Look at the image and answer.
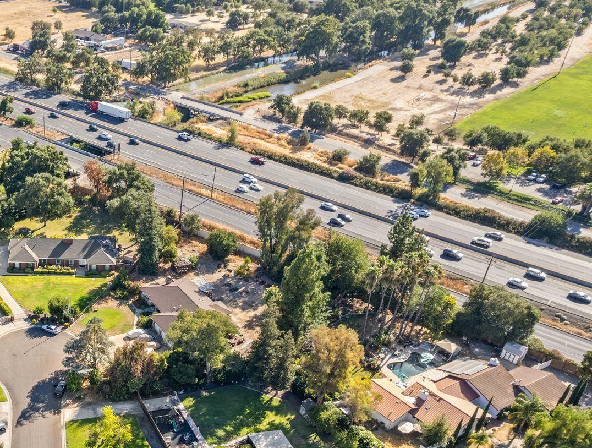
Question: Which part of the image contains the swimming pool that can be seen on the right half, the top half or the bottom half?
bottom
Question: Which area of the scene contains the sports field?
top right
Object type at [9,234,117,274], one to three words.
house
